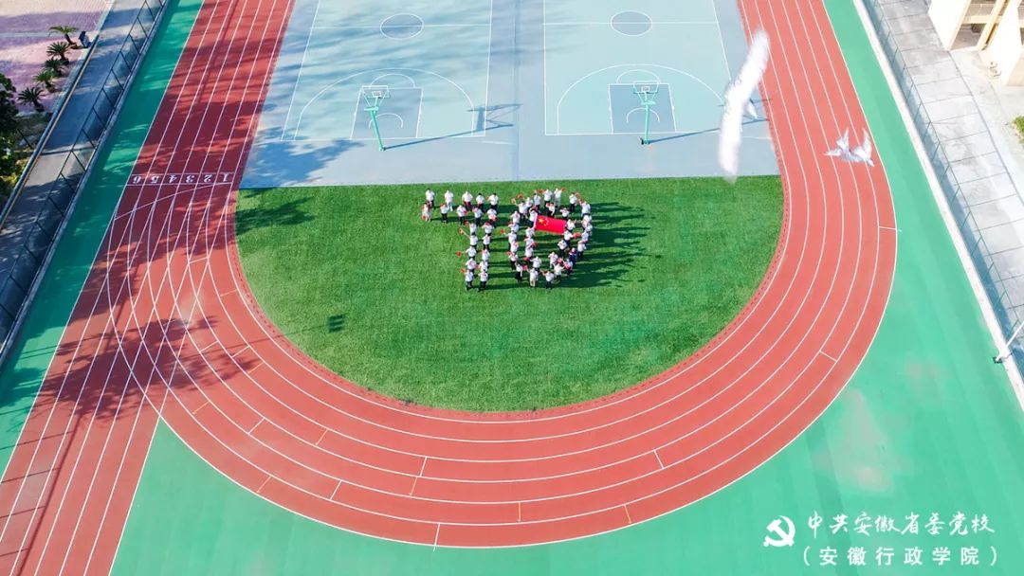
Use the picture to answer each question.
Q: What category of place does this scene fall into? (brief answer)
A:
sports ground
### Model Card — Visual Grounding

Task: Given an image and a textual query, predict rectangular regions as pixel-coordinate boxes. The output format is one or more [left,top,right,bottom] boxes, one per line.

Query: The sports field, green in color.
[236,174,781,411]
